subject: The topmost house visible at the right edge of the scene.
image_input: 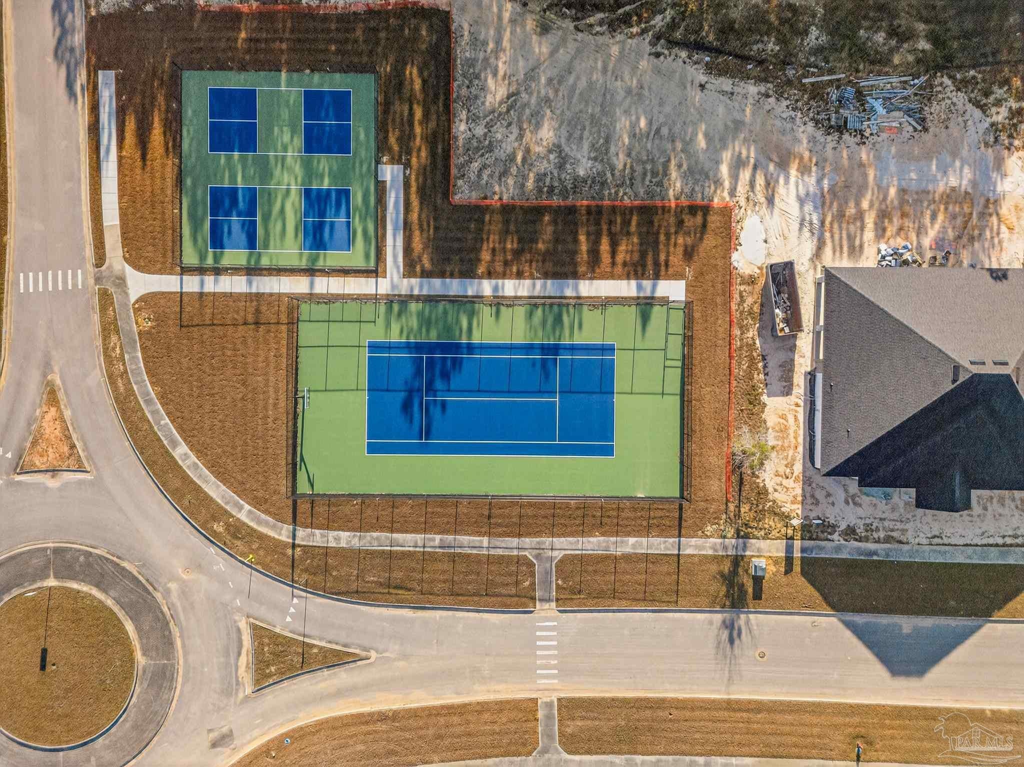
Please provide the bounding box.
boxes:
[807,267,1024,513]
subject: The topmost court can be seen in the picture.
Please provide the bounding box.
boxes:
[181,71,378,170]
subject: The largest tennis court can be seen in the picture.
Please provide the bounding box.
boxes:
[296,303,686,499]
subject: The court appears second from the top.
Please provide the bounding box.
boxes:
[181,170,376,267]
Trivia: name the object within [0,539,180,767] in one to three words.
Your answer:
roundabout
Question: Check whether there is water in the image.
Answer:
No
